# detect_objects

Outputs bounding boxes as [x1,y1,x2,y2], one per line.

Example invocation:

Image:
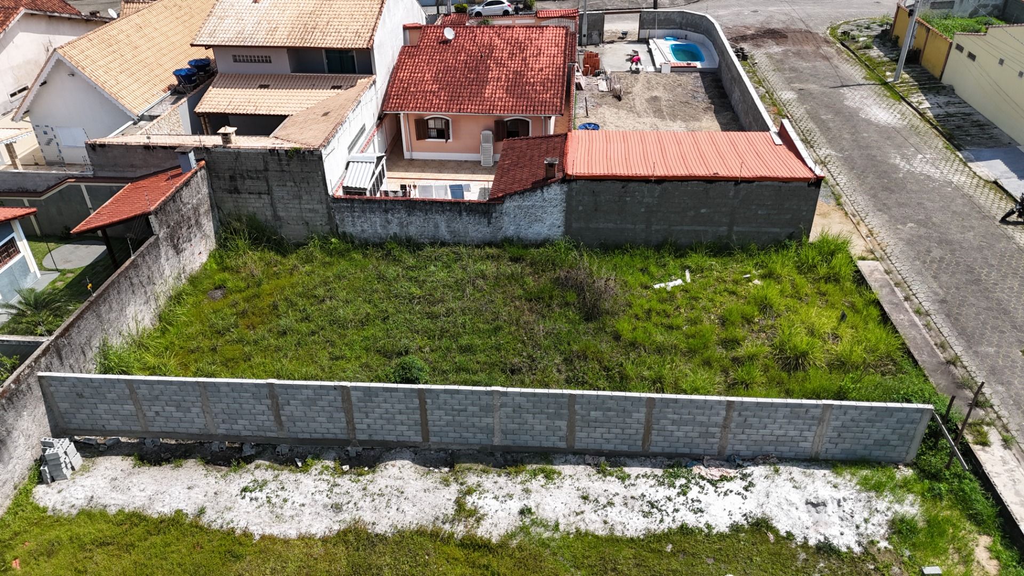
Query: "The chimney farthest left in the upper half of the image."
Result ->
[166,143,195,171]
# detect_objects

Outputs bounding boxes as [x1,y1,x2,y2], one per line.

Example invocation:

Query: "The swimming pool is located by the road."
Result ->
[646,31,724,78]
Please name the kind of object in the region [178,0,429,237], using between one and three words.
house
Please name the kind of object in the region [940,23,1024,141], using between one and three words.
building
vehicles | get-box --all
[469,0,512,13]
[998,191,1024,222]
